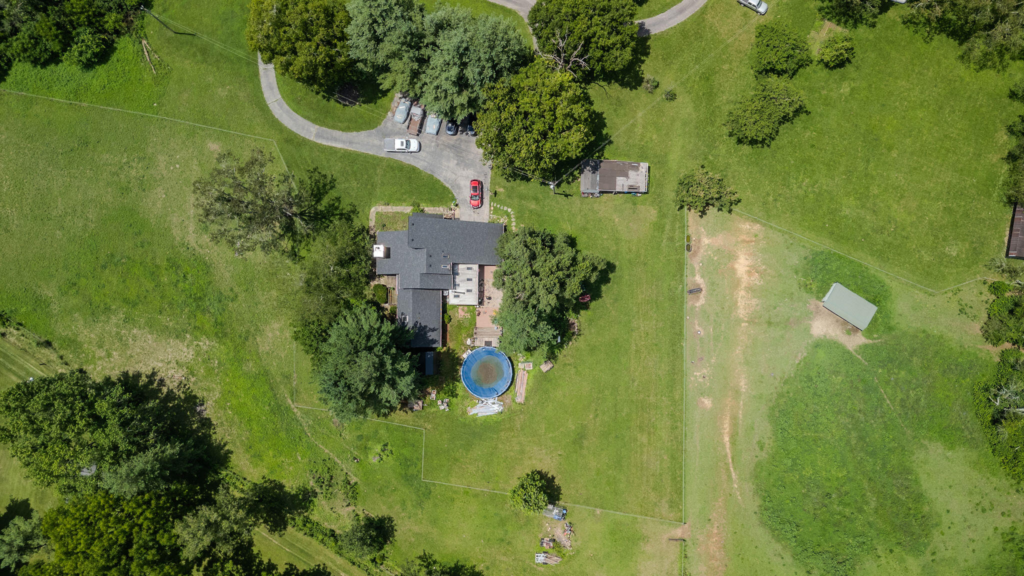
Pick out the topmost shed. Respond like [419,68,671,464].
[581,159,648,193]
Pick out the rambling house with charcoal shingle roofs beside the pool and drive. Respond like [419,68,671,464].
[373,212,505,348]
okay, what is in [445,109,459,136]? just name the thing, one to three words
car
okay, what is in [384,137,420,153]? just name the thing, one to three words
vehicle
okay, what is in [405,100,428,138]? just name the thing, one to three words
truck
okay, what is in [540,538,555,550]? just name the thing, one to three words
vehicle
